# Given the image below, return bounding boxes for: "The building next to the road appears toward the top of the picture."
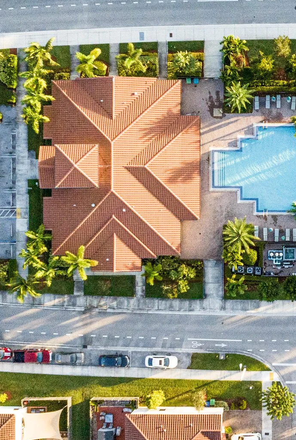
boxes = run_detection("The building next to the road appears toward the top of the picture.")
[36,73,201,272]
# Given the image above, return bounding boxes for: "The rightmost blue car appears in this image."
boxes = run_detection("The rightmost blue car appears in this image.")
[99,354,131,367]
